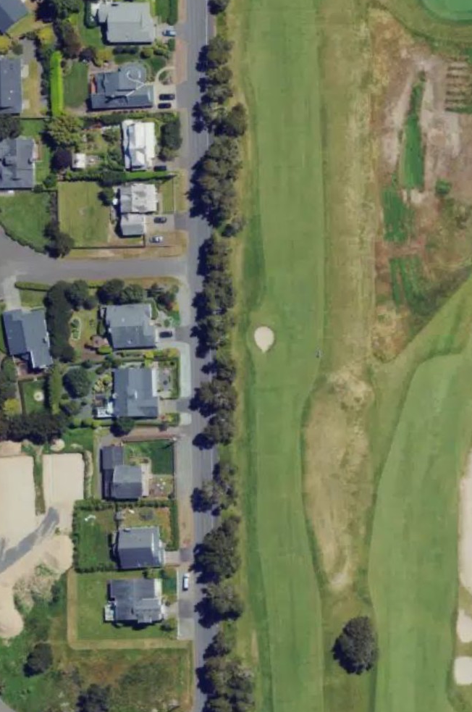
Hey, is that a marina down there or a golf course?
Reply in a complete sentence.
This image shows a golf course.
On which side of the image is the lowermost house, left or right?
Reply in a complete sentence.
It is on the left.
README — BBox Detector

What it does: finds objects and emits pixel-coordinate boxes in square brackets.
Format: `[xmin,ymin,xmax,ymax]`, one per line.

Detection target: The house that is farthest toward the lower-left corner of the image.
[110,580,163,624]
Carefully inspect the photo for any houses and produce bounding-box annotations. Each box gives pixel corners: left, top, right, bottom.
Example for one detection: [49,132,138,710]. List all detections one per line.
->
[97,2,155,44]
[115,527,164,568]
[1,309,55,366]
[121,120,155,170]
[104,304,157,348]
[91,60,154,109]
[113,368,160,419]
[0,0,29,35]
[110,580,163,624]
[0,137,34,189]
[101,446,144,499]
[118,182,158,237]
[0,57,22,112]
